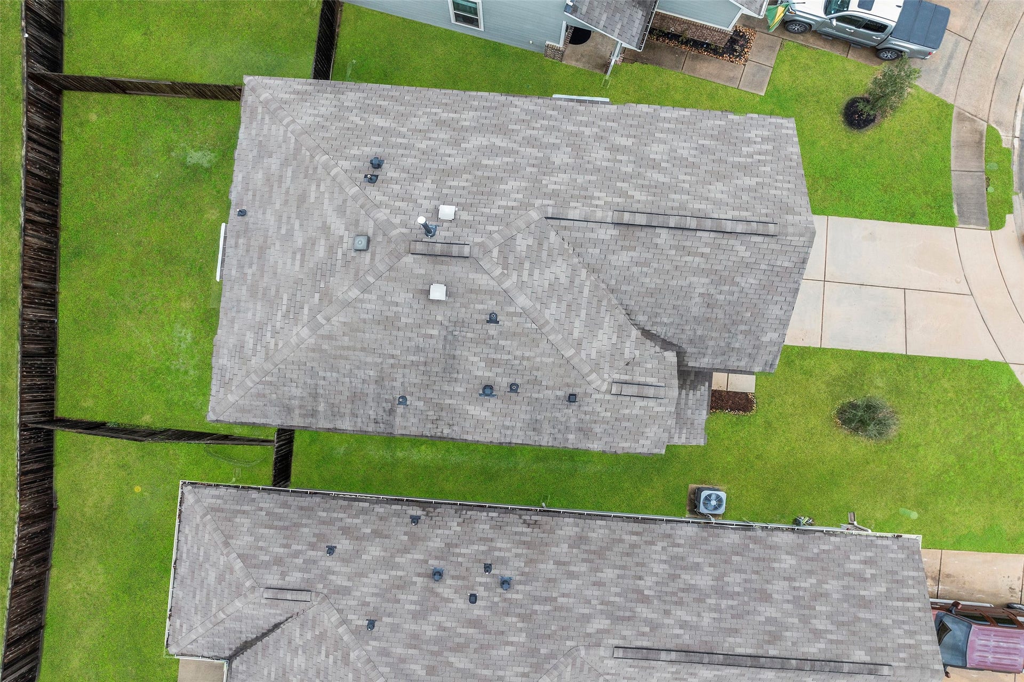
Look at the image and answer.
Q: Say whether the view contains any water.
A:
No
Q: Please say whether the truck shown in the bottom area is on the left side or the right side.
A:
right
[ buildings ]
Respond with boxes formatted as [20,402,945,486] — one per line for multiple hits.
[343,0,771,92]
[212,74,817,457]
[166,481,948,682]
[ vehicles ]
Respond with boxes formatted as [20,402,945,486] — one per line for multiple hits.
[774,0,951,63]
[930,592,1024,680]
